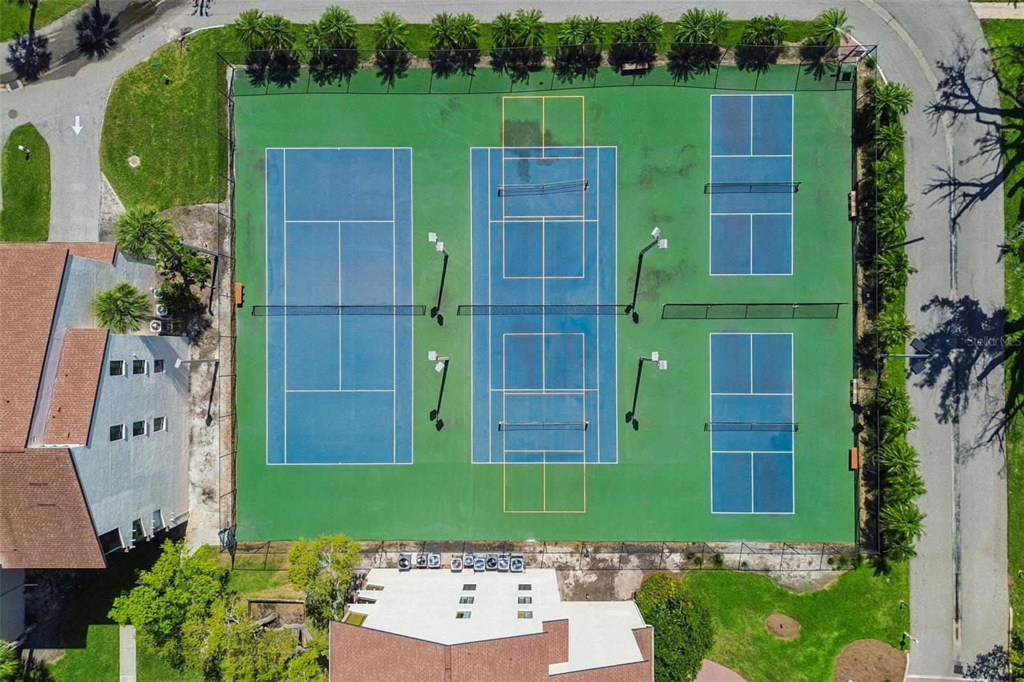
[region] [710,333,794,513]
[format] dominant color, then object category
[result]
blue sports court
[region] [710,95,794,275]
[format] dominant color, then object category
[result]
blue sports court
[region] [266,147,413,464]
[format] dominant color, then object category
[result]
blue tennis court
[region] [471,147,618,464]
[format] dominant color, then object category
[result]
blue tennis court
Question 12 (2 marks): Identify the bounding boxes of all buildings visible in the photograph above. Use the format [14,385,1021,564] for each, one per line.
[0,241,190,568]
[327,569,655,682]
